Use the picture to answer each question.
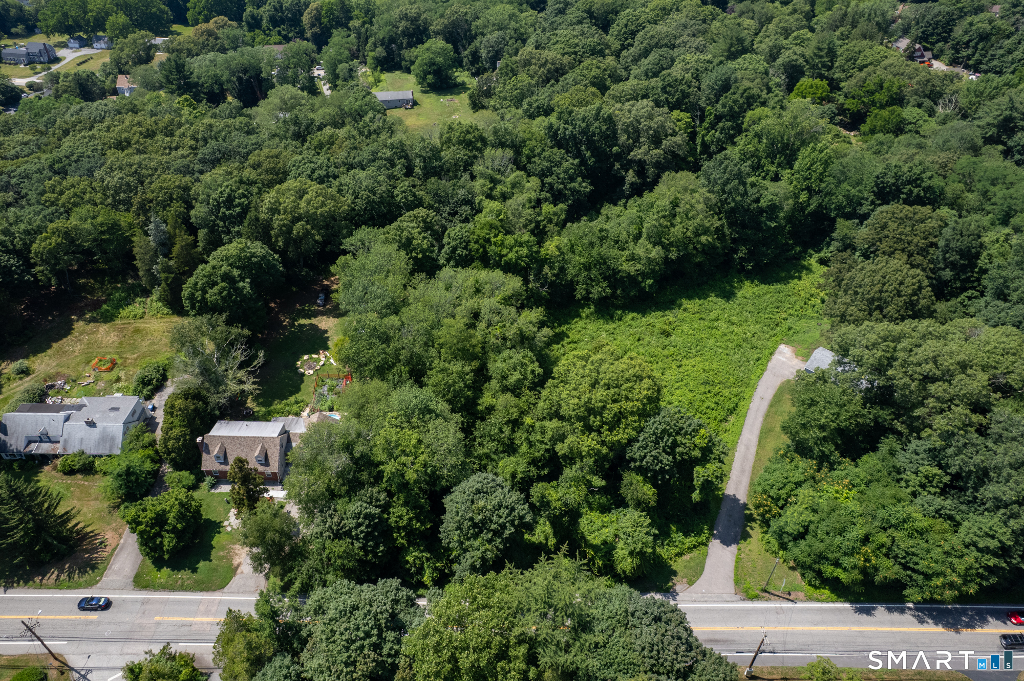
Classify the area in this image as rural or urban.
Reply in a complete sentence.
The land in this view is best described as rural.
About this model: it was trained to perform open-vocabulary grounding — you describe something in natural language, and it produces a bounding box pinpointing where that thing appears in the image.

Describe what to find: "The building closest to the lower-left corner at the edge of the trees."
[0,394,156,467]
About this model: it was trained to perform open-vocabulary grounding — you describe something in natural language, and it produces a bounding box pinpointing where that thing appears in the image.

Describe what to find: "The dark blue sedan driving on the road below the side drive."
[76,597,111,613]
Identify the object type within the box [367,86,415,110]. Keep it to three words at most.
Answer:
house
